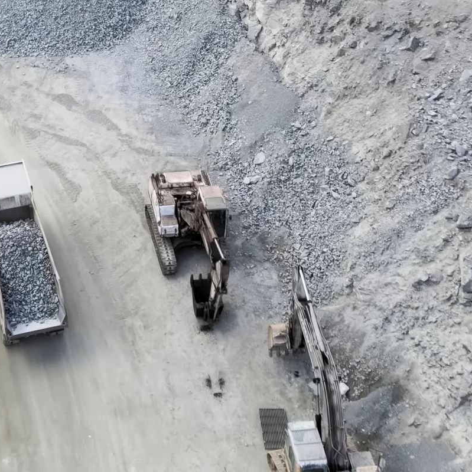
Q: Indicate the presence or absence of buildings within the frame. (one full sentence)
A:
No, I find no building anywhere in the image.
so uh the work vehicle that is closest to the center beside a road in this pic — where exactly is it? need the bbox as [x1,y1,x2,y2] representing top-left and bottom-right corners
[141,174,235,319]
